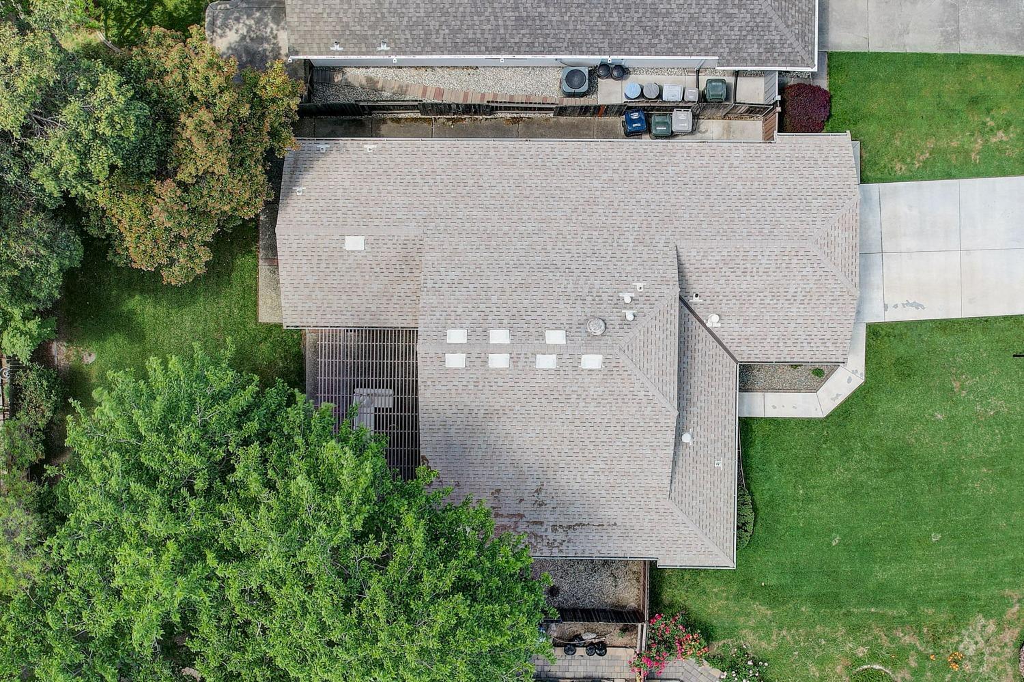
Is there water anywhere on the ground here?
No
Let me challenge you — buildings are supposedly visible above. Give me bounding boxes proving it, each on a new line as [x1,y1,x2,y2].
[282,0,820,73]
[274,128,860,571]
